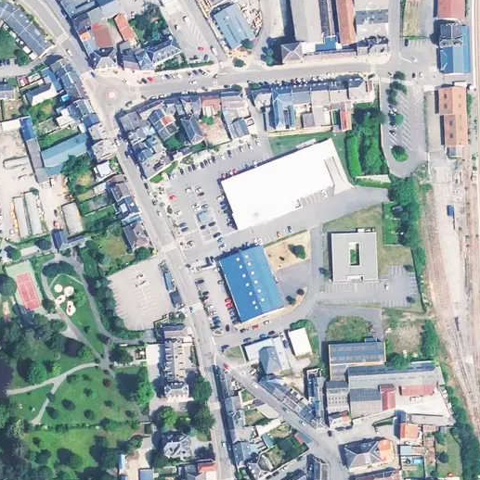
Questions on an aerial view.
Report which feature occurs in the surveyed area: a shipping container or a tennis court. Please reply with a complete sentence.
Of the two, only a tennis court appears.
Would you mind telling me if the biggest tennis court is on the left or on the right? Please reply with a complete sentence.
The biggest tennis court is on the left side of the image.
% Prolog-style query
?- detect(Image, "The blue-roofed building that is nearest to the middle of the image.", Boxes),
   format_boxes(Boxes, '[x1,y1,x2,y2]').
[218,245,284,323]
